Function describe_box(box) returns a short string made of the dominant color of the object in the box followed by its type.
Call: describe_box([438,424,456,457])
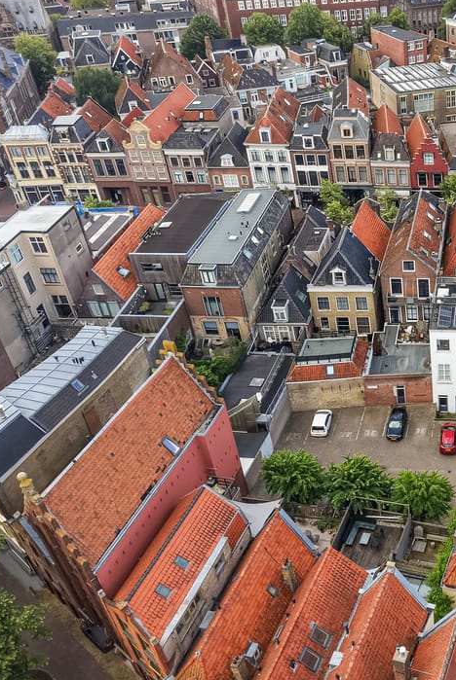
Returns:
red car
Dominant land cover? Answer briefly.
buildings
